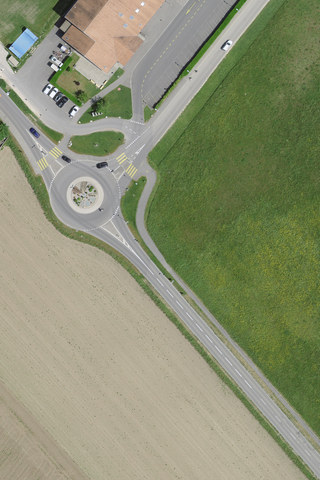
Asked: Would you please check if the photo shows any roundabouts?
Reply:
Yes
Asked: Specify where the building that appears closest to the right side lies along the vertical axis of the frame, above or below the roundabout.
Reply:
above it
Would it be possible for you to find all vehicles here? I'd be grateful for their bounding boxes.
[222,40,232,50]
[69,105,78,116]
[44,84,52,94]
[30,128,40,138]
[49,88,58,98]
[54,92,62,102]
[61,154,72,164]
[96,162,108,168]
[58,96,67,107]
[51,56,63,67]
